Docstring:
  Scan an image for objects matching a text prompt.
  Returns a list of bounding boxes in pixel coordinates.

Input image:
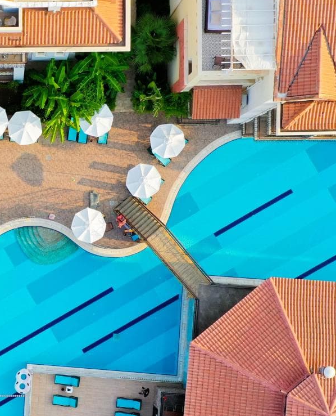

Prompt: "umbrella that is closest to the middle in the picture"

[124,164,159,198]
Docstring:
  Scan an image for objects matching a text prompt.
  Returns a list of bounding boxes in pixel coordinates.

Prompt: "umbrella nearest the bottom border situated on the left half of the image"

[67,207,104,243]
